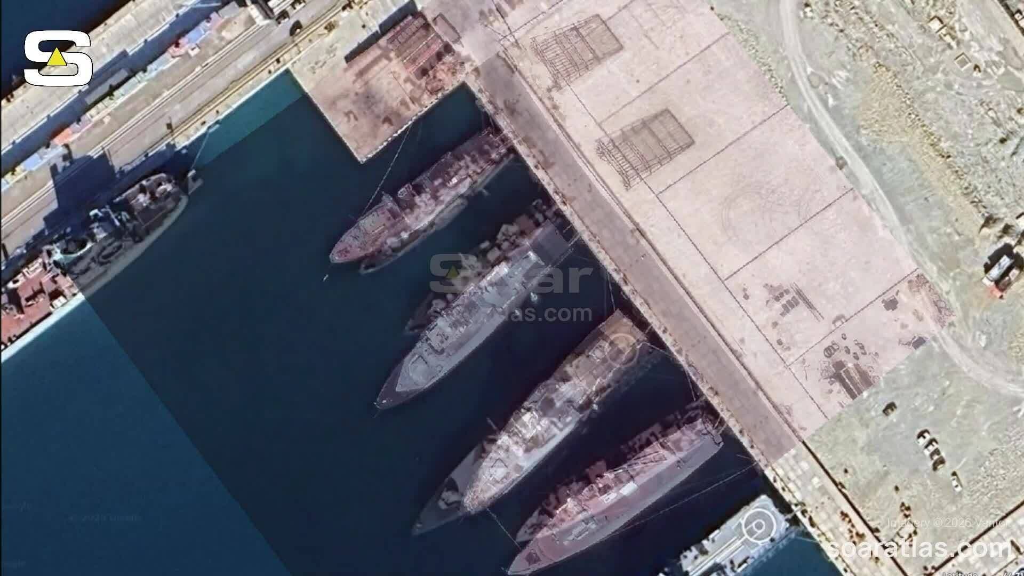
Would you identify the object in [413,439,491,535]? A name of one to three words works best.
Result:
boat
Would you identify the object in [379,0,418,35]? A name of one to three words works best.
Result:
shed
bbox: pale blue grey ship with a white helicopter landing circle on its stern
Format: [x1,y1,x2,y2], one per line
[658,494,791,576]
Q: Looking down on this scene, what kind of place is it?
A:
port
